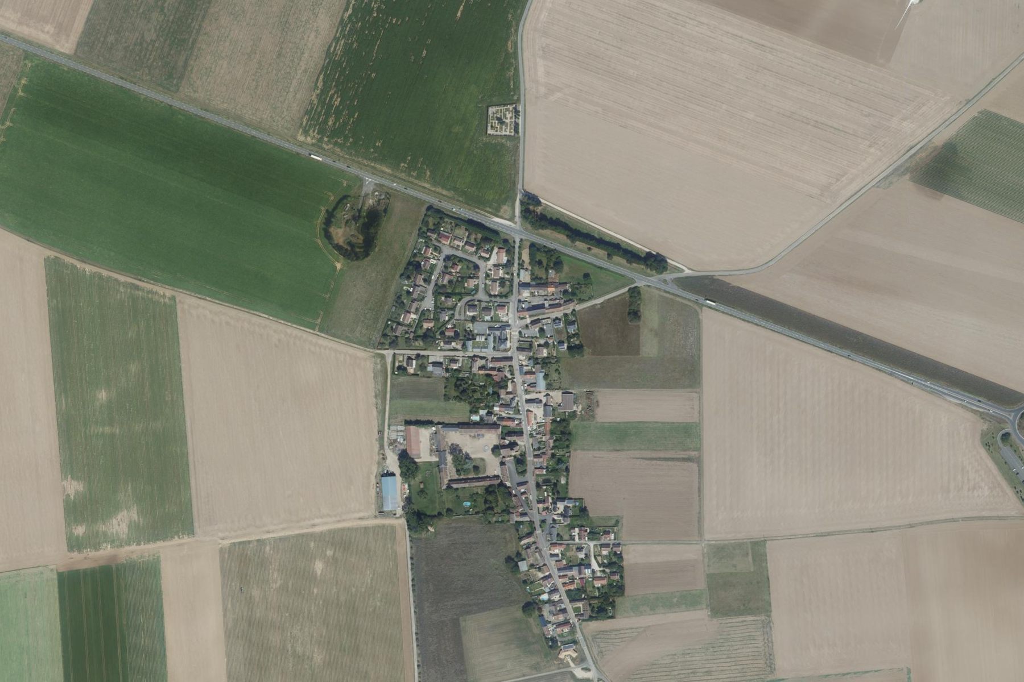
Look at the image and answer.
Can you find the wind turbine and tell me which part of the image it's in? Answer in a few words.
top right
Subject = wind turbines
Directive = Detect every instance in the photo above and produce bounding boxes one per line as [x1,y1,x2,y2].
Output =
[896,0,917,32]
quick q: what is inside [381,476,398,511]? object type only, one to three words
barn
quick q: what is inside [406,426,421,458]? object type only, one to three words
barn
